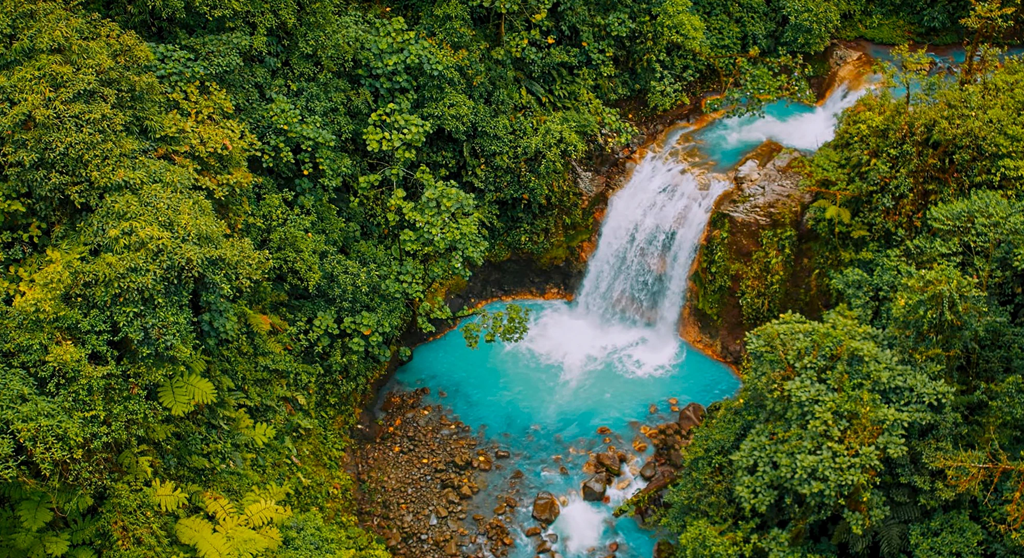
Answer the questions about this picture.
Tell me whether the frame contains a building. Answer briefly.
No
